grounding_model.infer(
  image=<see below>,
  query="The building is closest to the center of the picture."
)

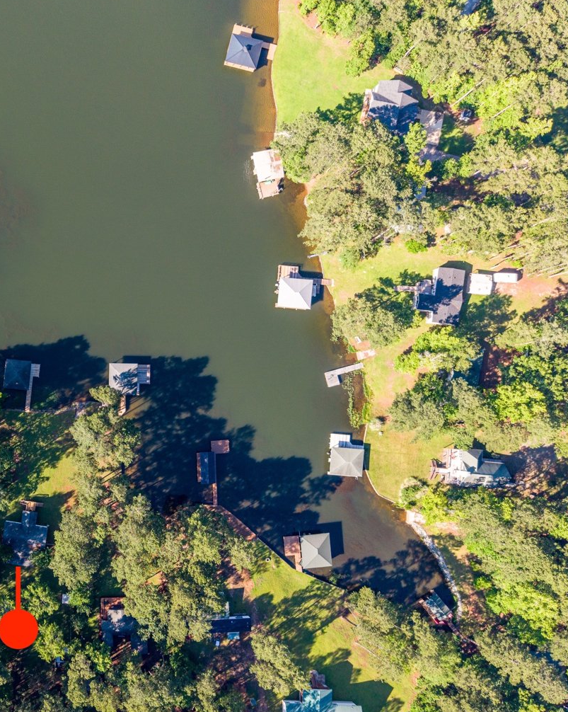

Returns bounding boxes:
[275,264,319,311]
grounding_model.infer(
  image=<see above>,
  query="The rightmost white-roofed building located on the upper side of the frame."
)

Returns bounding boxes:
[464,273,493,294]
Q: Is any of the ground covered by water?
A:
Yes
